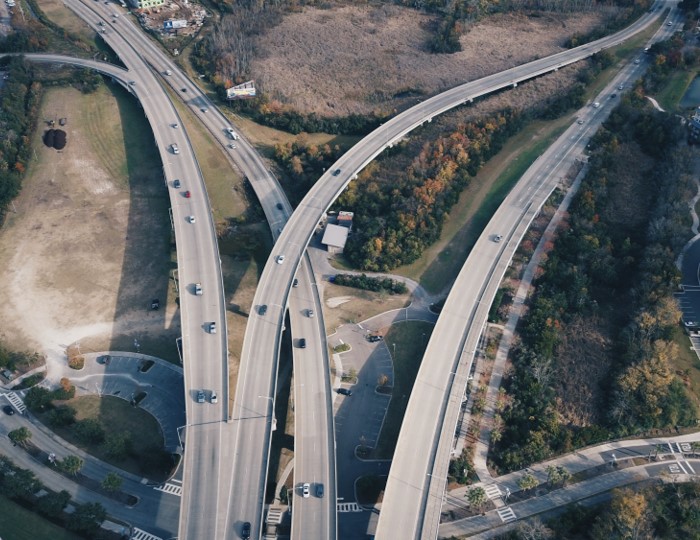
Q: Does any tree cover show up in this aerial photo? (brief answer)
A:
Yes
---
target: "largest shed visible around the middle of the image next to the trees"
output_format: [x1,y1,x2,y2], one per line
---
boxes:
[319,223,352,256]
